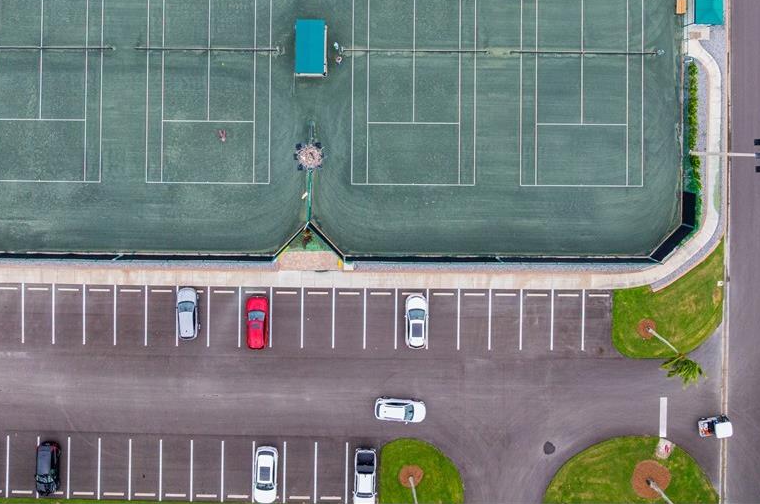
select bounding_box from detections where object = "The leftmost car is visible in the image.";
[35,438,63,494]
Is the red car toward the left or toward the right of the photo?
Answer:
left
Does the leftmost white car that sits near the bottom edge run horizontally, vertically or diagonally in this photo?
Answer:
vertically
